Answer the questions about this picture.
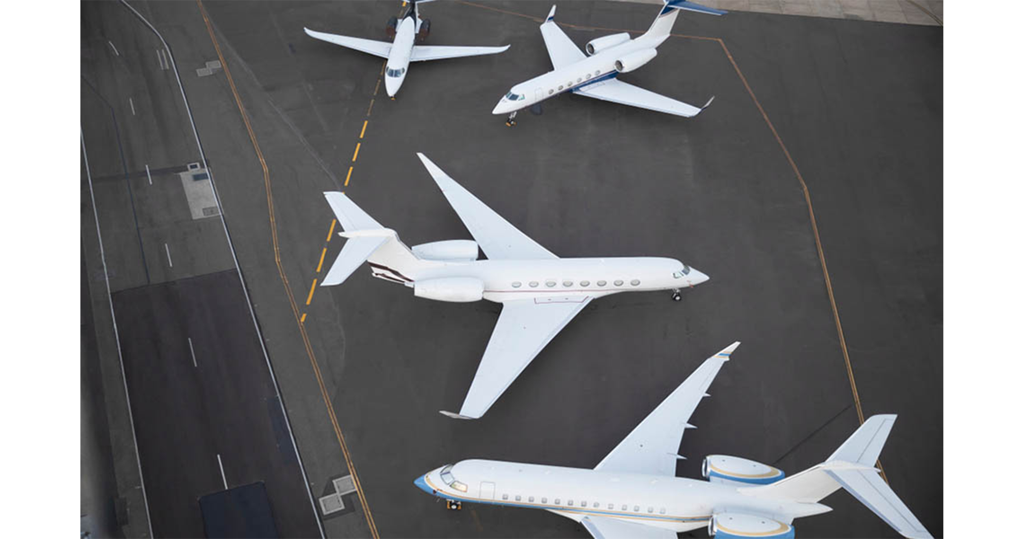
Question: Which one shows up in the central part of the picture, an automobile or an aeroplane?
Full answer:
Looking in the central part of the picture, you will find an aeroplane.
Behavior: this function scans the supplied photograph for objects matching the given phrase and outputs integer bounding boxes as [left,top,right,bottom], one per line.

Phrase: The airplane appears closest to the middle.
[321,152,710,421]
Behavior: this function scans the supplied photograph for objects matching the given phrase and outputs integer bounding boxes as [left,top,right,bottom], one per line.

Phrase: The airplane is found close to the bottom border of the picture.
[413,342,934,539]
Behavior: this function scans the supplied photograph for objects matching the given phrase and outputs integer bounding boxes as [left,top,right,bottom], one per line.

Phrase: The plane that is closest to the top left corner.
[305,0,511,100]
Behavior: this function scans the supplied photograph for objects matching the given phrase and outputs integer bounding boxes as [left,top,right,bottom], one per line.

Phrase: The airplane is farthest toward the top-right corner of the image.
[492,0,729,125]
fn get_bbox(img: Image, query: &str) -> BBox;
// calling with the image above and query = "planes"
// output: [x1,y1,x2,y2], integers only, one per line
[492,0,729,125]
[321,152,710,421]
[413,342,934,539]
[305,0,511,100]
